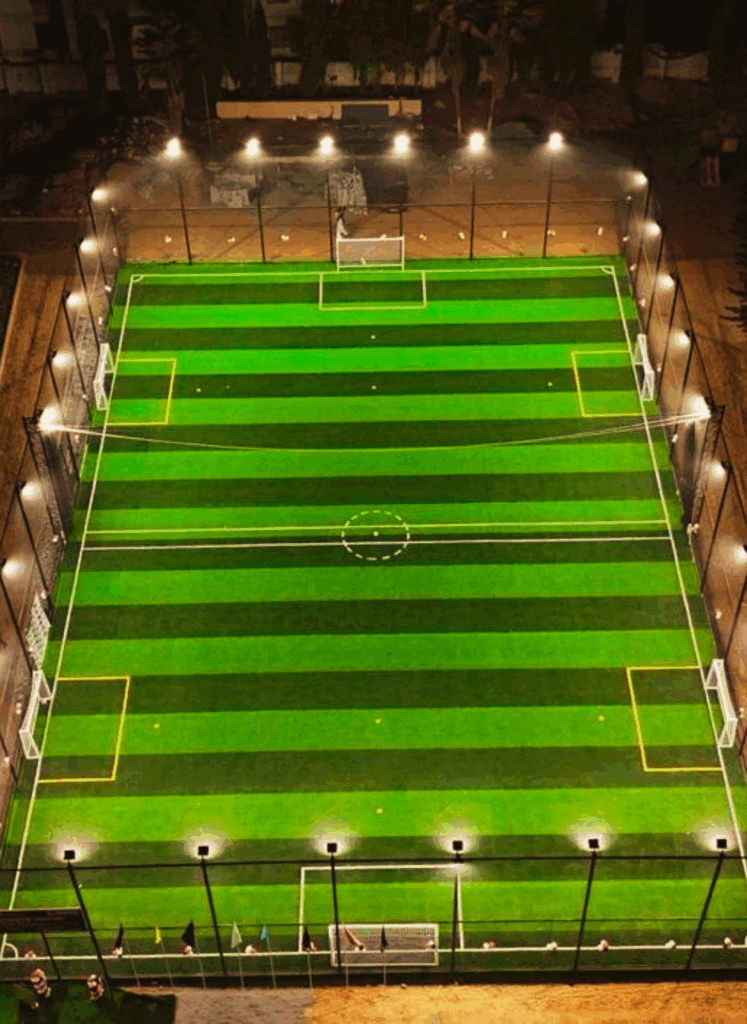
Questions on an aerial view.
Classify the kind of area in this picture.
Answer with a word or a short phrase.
sports ground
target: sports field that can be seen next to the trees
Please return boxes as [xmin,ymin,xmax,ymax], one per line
[0,255,747,979]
